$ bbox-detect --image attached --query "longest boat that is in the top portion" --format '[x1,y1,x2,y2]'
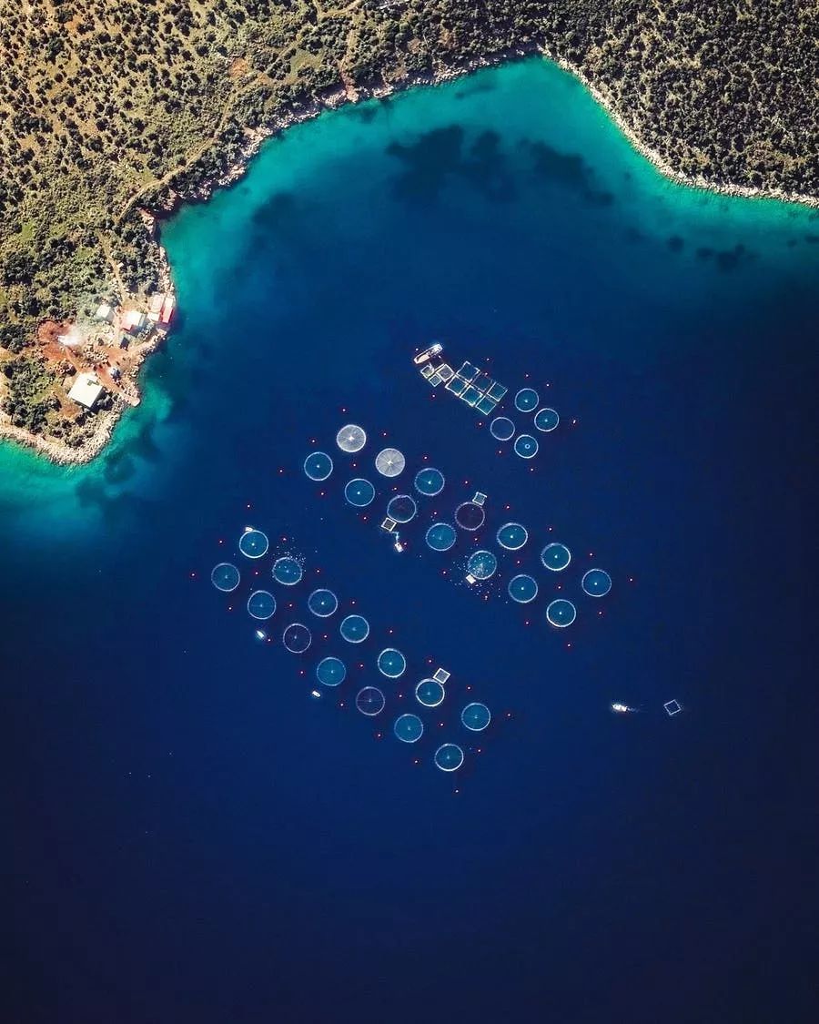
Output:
[414,343,444,362]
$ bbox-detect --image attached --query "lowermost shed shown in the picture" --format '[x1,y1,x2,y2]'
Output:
[68,373,105,408]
